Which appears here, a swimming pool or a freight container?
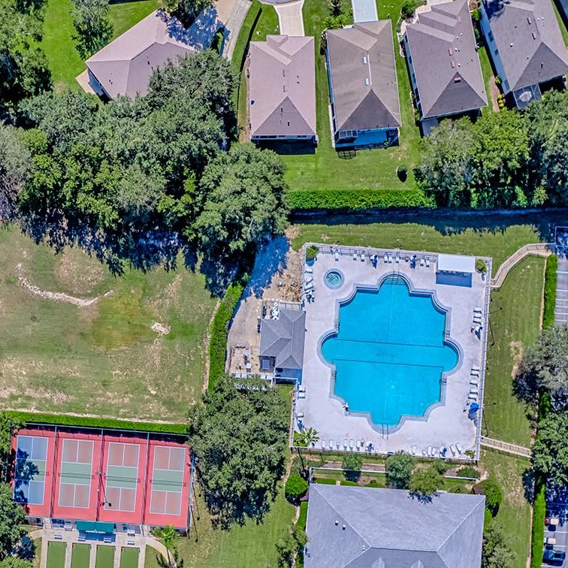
swimming pool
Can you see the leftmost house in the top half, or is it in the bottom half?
top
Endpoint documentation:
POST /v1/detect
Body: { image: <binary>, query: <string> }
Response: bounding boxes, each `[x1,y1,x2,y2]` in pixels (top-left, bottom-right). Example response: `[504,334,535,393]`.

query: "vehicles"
[546,549,568,560]
[549,519,560,525]
[548,537,557,545]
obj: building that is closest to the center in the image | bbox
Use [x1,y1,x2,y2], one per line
[258,309,305,370]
